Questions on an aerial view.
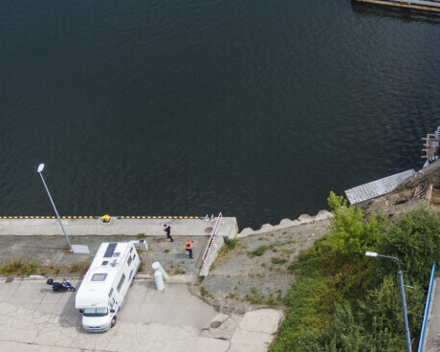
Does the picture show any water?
Yes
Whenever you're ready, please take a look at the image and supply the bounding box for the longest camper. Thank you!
[80,229,148,329]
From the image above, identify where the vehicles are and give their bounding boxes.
[39,278,72,293]
[80,229,148,329]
